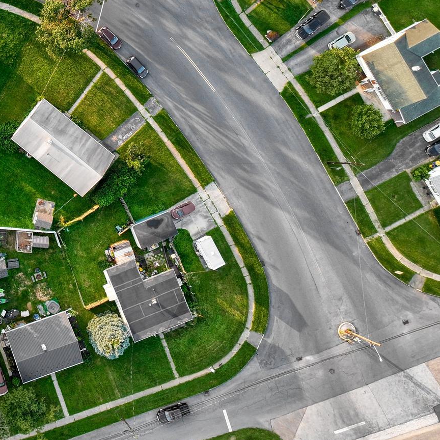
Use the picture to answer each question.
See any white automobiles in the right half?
Yes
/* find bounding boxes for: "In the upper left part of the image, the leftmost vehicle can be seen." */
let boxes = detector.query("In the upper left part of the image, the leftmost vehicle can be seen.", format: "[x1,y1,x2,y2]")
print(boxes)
[95,23,122,52]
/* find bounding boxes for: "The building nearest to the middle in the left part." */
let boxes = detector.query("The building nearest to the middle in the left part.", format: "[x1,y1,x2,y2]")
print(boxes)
[128,209,178,249]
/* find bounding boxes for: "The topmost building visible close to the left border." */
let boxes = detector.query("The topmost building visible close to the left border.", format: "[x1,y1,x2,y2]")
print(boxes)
[11,99,115,197]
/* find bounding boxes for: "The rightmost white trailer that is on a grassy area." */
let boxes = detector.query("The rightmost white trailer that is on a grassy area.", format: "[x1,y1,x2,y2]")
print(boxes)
[193,232,223,269]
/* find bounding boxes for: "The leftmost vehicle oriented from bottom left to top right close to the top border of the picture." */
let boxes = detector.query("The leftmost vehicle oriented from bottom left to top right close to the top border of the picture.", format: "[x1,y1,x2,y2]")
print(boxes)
[293,8,331,41]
